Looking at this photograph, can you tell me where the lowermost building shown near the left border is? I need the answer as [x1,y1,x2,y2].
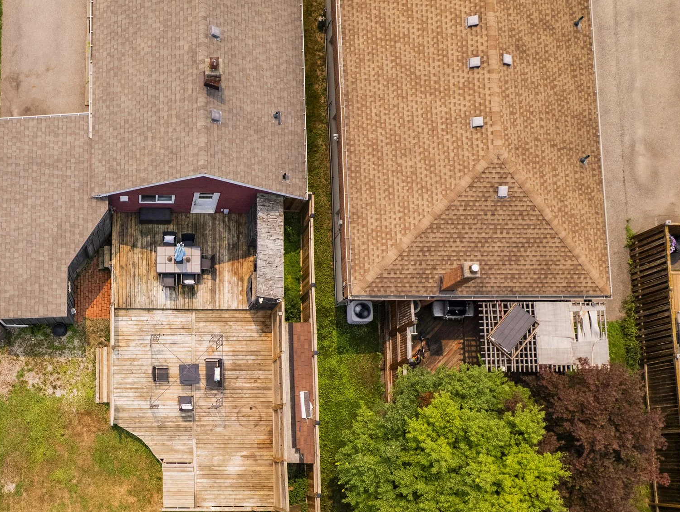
[0,111,110,328]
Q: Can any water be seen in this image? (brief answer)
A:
No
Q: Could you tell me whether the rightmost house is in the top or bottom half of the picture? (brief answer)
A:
top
